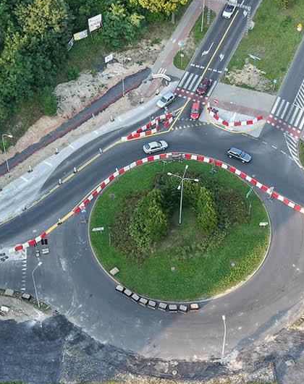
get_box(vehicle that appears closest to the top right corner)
[222,0,235,19]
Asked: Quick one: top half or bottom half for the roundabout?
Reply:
bottom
